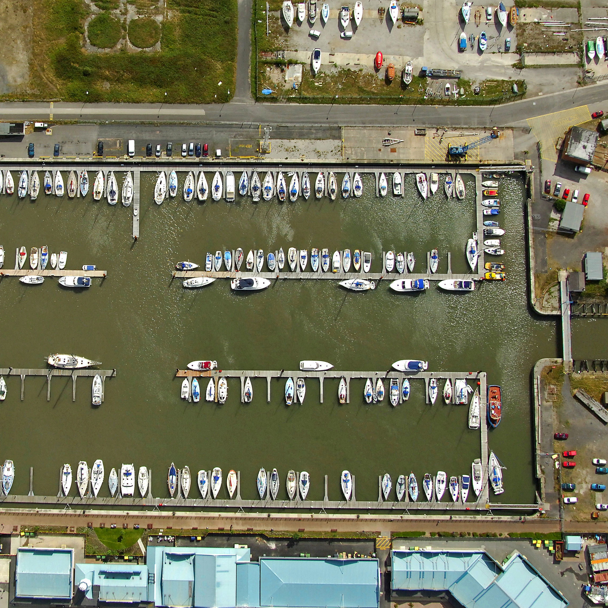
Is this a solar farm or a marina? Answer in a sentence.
It's a marina.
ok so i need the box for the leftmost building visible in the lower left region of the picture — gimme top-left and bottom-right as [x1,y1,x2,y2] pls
[16,549,74,598]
